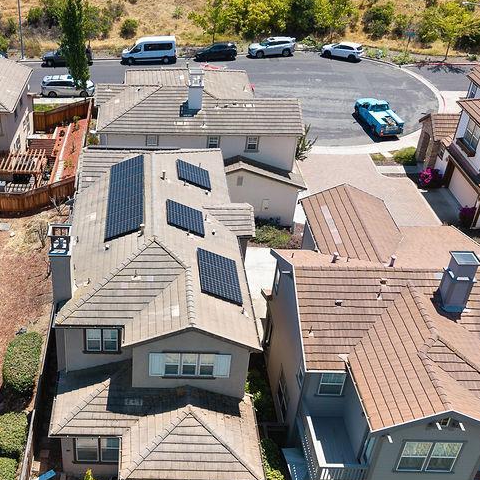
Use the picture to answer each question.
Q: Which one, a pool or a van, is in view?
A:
van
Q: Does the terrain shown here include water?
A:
No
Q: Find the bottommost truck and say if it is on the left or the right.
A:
right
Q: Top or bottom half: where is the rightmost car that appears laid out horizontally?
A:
top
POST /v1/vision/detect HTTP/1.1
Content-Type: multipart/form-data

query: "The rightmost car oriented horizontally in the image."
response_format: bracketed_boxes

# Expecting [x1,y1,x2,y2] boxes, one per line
[319,39,363,59]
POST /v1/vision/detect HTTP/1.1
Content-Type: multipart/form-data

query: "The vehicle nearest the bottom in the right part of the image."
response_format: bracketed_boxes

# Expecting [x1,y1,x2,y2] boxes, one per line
[358,100,406,135]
